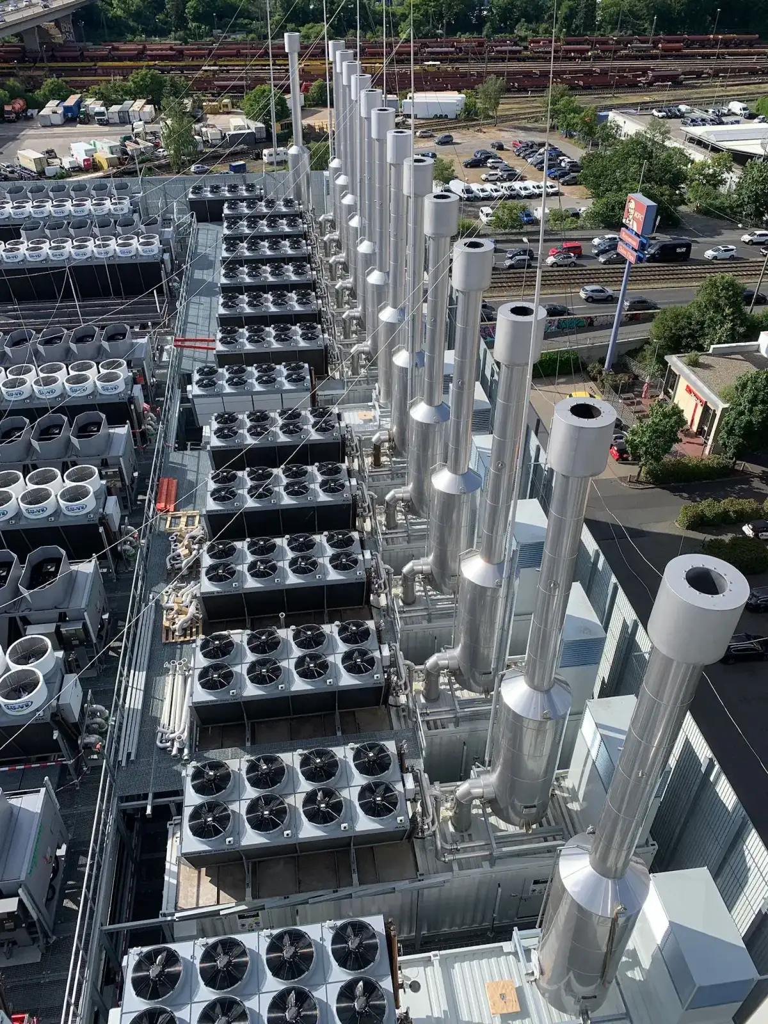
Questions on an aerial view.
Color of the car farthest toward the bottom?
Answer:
black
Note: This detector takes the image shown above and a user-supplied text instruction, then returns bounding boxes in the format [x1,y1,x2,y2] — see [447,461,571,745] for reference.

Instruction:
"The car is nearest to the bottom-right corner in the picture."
[728,628,768,663]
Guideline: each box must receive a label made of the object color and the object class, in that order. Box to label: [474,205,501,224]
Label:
white vehicle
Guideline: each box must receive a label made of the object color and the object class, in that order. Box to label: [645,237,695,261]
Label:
black vehicle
